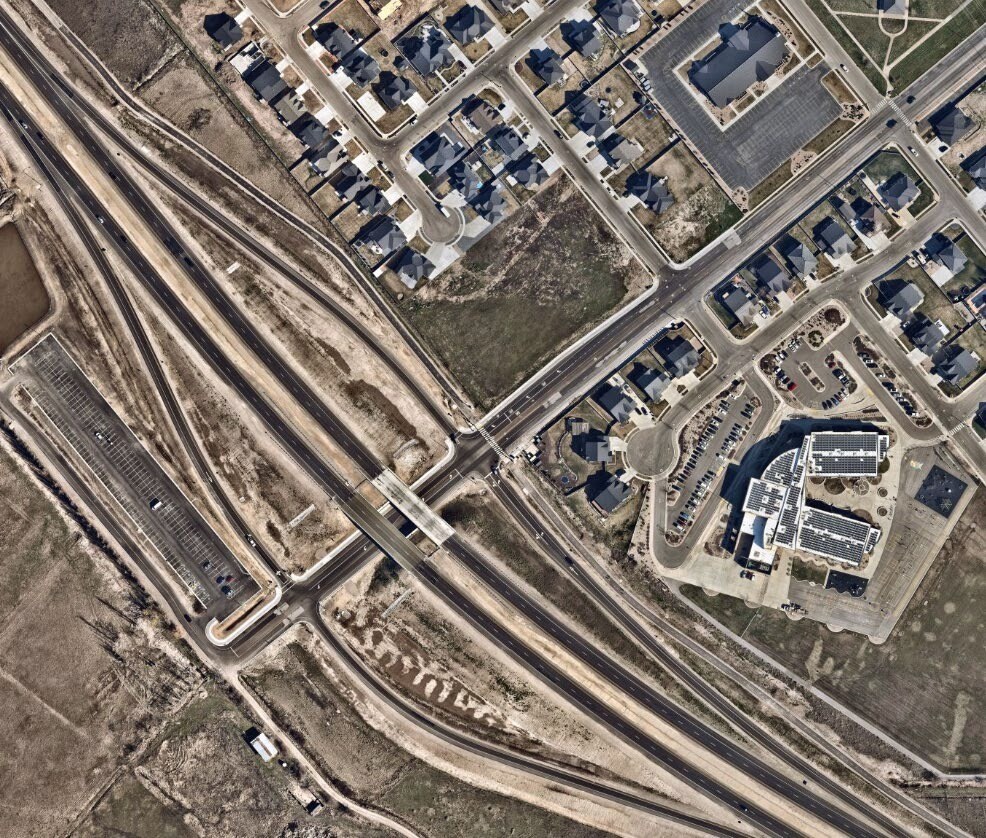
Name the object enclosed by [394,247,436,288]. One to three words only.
house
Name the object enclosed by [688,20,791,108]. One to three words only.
building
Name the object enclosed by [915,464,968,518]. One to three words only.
playground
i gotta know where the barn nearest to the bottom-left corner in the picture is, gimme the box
[250,733,277,762]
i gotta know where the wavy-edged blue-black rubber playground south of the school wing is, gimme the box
[825,569,869,597]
